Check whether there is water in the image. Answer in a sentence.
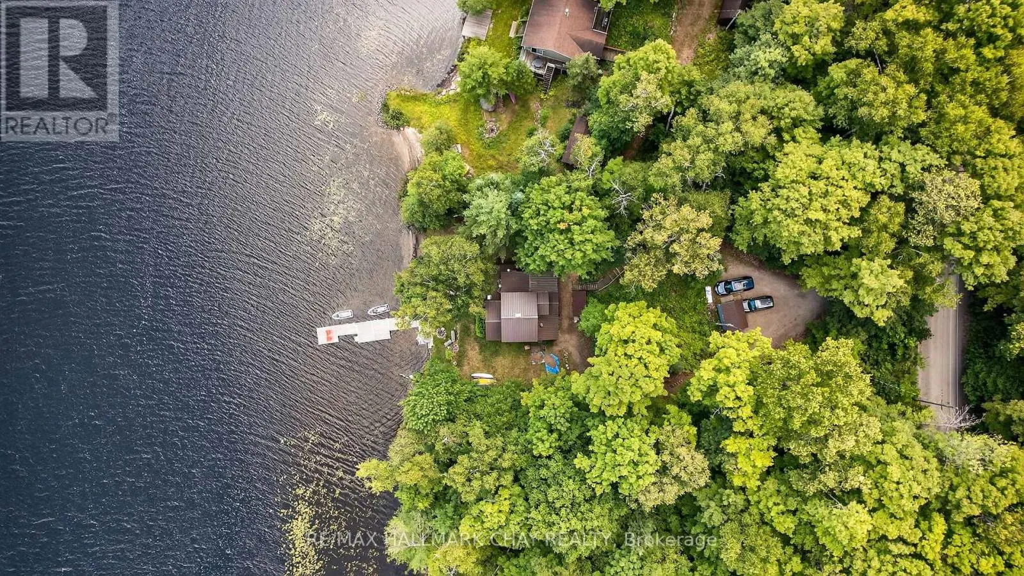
Yes, the picture does contain water.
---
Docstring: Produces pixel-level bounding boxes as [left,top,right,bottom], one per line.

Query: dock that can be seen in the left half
[317,317,424,344]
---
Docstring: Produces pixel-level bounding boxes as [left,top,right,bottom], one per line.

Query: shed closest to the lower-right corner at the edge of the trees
[714,299,747,329]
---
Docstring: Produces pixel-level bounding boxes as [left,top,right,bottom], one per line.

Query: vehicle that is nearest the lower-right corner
[744,295,775,312]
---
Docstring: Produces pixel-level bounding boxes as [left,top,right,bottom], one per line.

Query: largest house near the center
[486,261,559,342]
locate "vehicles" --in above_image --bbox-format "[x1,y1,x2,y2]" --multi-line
[713,277,754,295]
[744,295,775,312]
